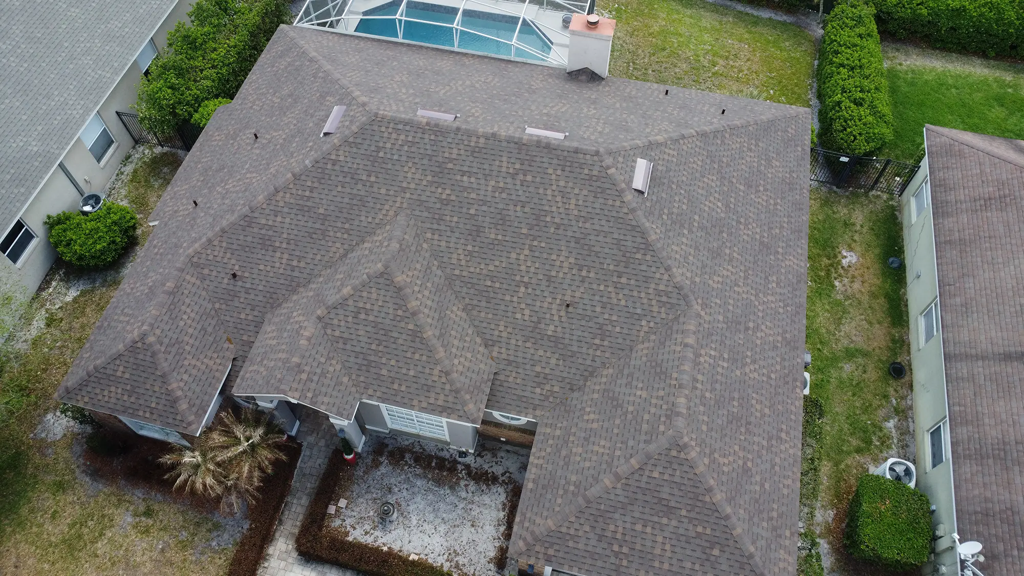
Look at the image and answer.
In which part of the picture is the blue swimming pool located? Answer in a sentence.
The blue swimming pool is in the top part of the image.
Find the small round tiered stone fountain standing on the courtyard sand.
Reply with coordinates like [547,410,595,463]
[376,498,394,516]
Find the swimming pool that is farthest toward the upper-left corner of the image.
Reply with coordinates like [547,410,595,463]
[351,0,553,63]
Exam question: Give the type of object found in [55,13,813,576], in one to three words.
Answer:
house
